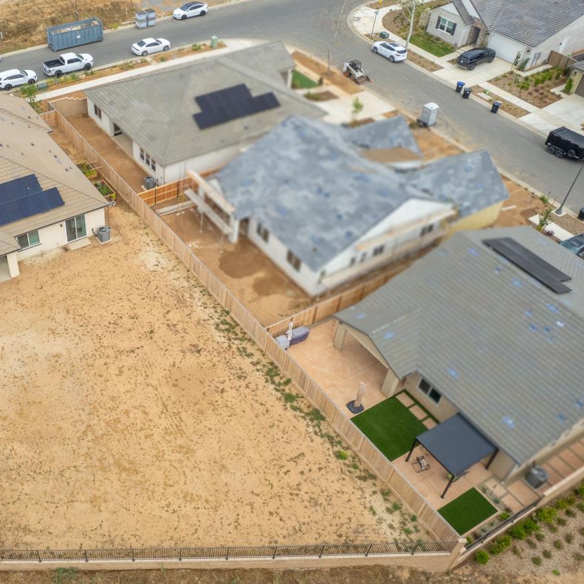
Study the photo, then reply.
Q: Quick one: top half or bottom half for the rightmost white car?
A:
top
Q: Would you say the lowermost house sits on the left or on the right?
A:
right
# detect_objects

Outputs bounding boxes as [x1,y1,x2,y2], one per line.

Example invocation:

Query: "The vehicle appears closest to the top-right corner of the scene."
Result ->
[459,45,499,68]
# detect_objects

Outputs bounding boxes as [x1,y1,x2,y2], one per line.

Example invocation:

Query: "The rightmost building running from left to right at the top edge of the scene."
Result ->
[413,0,584,69]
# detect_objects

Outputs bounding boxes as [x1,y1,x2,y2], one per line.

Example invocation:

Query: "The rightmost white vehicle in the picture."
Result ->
[370,39,409,61]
